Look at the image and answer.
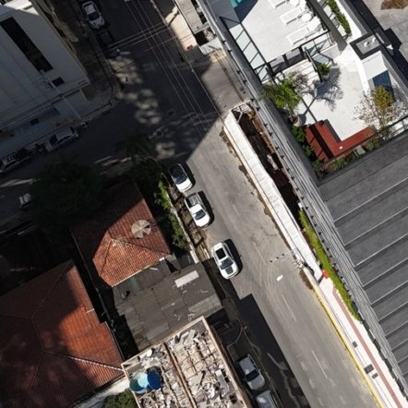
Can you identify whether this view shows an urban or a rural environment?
urban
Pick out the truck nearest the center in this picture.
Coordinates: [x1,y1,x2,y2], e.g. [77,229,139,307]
[178,187,214,233]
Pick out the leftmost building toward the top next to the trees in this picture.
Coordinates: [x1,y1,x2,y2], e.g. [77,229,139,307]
[0,0,102,159]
